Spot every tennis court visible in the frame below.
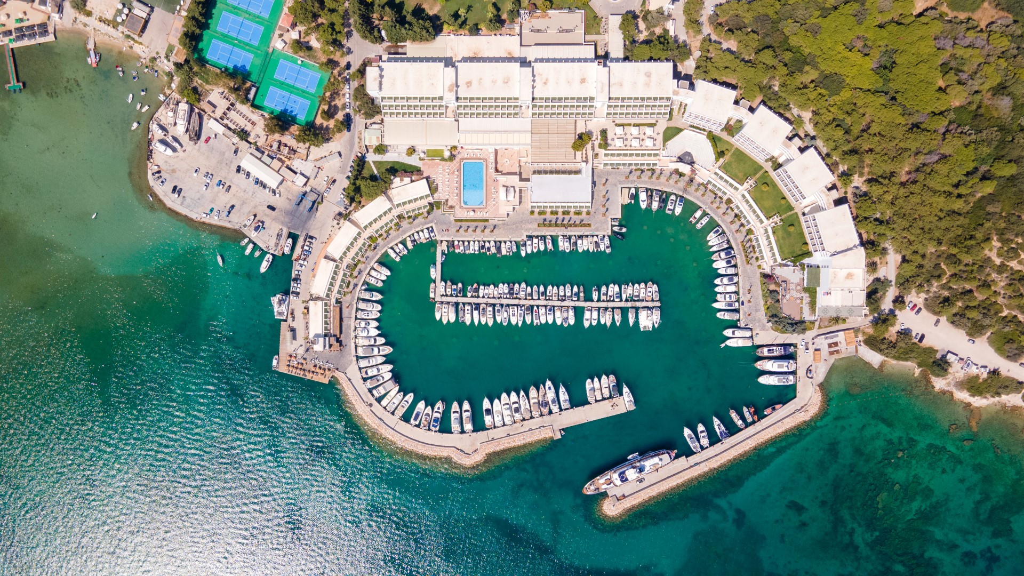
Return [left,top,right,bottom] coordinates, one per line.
[207,39,254,73]
[251,49,331,125]
[227,0,274,18]
[264,86,310,120]
[274,59,320,94]
[193,0,285,82]
[217,11,264,46]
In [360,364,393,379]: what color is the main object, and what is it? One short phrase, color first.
white boat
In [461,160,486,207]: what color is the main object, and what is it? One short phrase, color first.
blue swimming pool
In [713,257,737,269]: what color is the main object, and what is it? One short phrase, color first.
white boat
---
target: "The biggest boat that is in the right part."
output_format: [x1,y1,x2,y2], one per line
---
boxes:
[583,449,676,493]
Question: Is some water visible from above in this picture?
Yes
